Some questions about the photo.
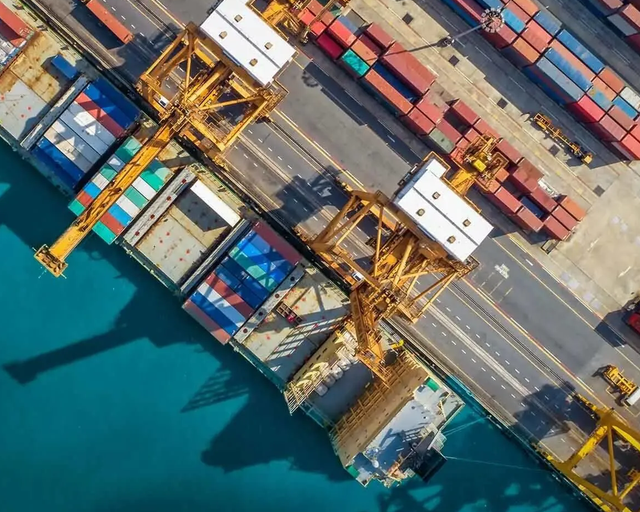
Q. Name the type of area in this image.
port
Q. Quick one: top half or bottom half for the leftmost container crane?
top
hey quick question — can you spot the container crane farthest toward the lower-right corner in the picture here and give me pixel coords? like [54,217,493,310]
[531,388,640,512]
